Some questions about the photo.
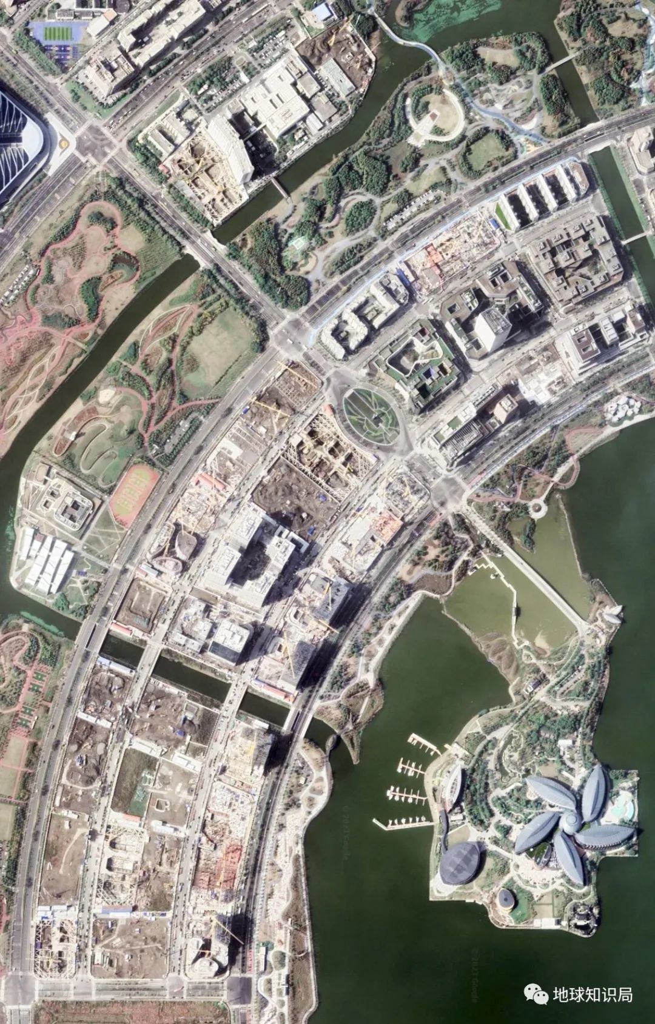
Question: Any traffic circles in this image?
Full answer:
Yes, there's a traffic circle down there.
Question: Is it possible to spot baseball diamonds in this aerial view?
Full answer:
No, there's no baseball diamond here.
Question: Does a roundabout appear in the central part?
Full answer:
Yes, a roundabout shows up in the central part.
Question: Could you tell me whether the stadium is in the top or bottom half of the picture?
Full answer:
You can find the stadium in the top half.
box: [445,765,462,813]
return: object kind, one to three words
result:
building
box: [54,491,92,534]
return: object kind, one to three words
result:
building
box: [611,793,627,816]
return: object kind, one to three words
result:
swimming pool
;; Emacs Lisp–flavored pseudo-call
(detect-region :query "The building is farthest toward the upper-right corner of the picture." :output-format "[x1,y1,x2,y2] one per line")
[628,126,654,176]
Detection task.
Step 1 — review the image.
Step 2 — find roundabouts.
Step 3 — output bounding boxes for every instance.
[324,369,416,458]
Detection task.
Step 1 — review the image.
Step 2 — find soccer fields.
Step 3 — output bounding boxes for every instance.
[29,22,91,44]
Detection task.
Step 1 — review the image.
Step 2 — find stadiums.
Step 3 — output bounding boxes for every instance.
[0,86,51,205]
